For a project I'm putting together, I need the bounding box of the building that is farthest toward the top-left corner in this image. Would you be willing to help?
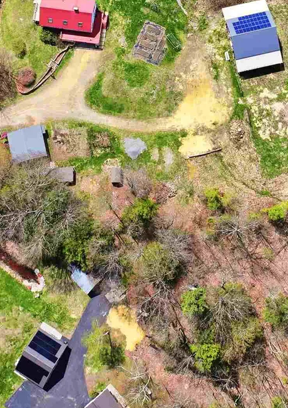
[33,0,112,54]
